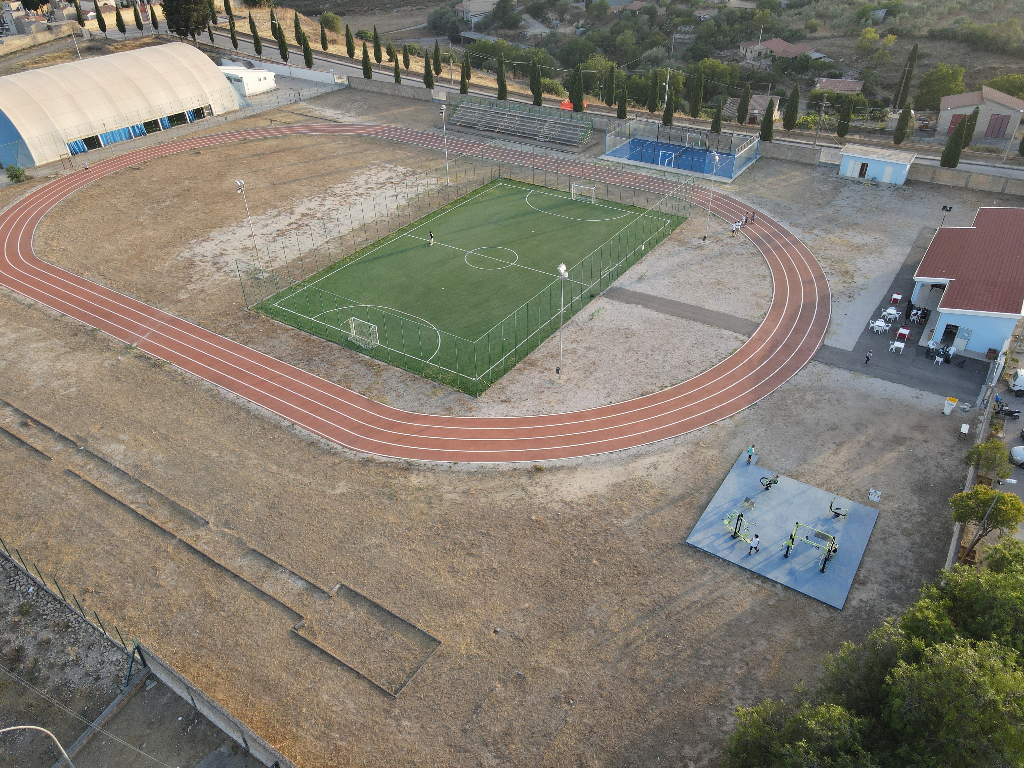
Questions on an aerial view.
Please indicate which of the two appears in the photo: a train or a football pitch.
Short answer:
football pitch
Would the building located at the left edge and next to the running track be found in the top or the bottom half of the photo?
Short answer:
top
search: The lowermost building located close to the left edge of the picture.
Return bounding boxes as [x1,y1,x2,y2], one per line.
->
[0,42,248,166]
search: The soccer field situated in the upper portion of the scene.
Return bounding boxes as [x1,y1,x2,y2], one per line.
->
[251,178,687,394]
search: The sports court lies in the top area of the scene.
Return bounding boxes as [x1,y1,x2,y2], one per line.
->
[595,104,765,182]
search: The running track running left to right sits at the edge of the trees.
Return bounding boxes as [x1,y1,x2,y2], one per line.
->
[0,124,834,465]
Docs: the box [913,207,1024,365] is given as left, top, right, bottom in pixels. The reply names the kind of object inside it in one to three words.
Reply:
building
